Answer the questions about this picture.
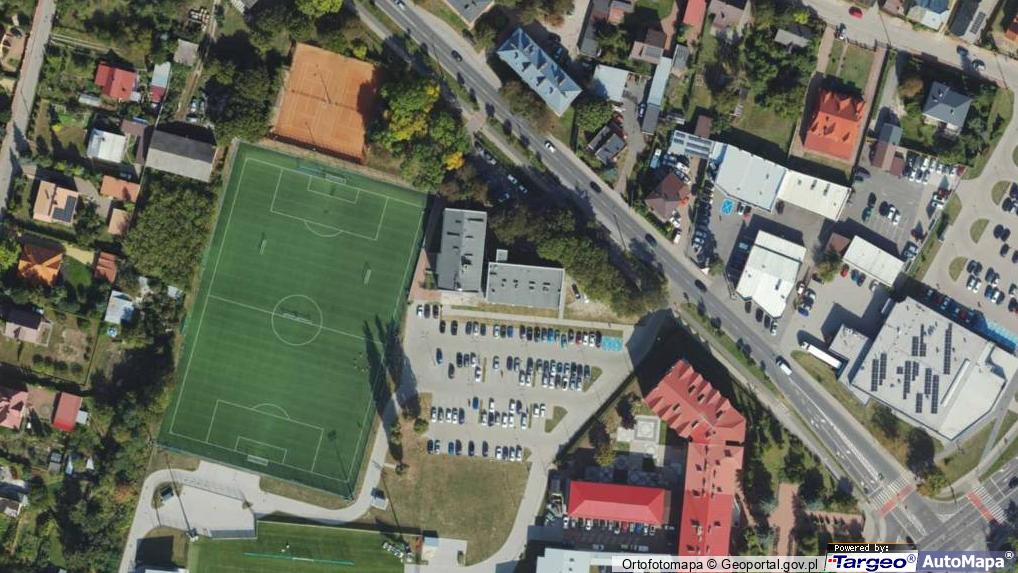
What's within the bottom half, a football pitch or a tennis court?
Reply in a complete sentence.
It is a football pitch that can be seen within the bottom half.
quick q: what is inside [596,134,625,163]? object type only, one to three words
shed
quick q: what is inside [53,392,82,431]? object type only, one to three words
house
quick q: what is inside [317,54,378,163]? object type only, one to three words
tennis court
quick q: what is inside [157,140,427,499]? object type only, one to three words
soccer field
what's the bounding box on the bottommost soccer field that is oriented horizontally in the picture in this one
[189,522,424,573]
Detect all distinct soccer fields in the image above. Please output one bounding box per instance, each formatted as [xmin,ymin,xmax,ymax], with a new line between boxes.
[157,140,427,499]
[189,522,424,573]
